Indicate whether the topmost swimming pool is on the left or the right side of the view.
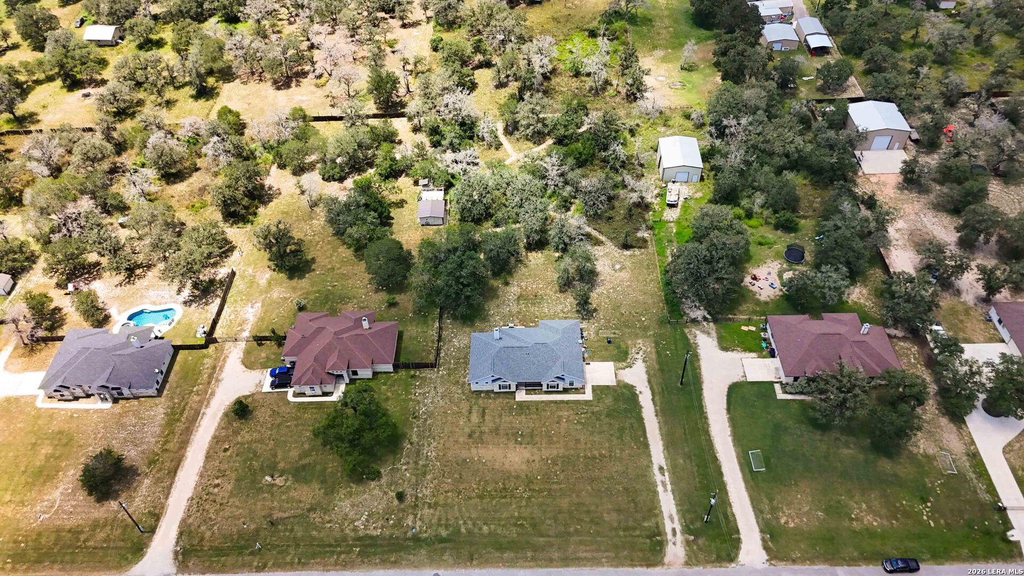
left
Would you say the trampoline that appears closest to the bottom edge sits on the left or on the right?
right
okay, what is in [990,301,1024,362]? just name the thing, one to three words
house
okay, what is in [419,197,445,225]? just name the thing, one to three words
shed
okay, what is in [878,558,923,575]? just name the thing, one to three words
vehicle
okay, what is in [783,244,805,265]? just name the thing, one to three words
trampoline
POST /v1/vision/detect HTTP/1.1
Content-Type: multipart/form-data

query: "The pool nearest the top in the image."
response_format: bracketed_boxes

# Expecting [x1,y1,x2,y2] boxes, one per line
[112,303,183,340]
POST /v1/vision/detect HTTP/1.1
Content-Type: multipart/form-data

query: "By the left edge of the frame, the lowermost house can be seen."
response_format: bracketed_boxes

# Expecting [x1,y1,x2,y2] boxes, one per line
[39,326,174,402]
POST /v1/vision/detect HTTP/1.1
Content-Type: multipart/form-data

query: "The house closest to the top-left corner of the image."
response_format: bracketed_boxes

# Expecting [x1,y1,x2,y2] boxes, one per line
[80,23,126,47]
